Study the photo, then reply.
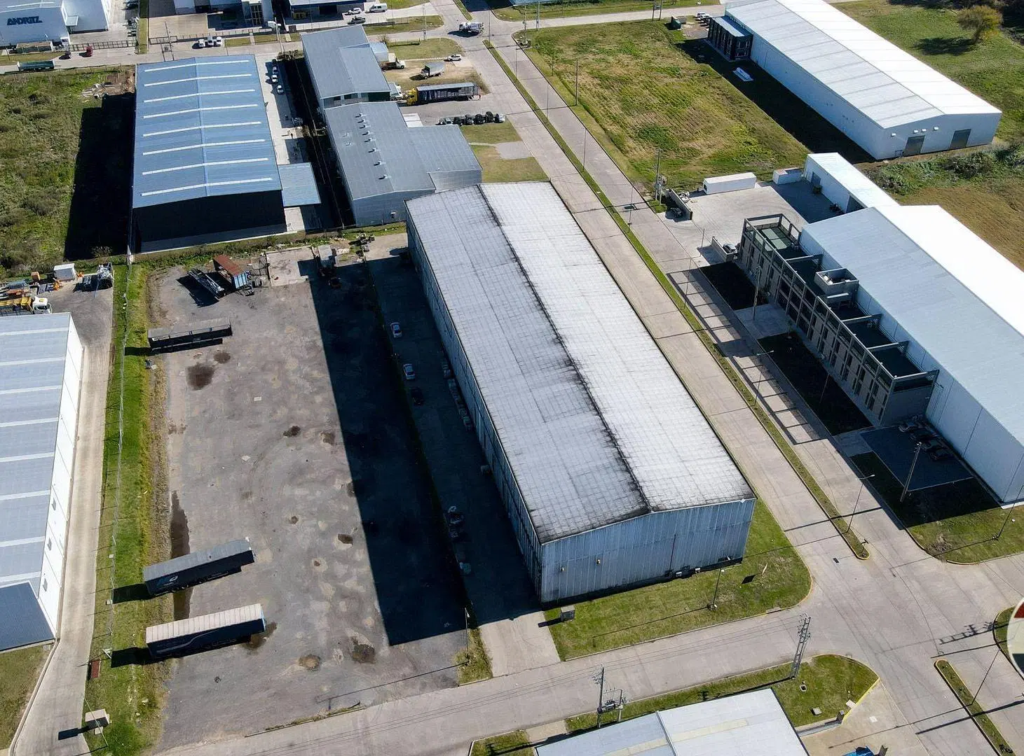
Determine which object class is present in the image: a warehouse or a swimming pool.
warehouse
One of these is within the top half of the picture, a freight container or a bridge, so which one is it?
freight container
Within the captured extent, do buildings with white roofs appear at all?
Yes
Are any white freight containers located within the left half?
No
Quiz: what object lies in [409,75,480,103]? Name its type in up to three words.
truck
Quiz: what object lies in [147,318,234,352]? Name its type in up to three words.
trailer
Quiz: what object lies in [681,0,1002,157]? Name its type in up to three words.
building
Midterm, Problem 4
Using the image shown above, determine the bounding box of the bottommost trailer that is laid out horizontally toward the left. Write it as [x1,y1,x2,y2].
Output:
[145,604,268,662]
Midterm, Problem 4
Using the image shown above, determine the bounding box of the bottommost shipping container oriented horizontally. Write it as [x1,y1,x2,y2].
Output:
[703,167,760,195]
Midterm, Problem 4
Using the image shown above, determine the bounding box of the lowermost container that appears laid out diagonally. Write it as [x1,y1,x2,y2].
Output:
[215,261,248,292]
